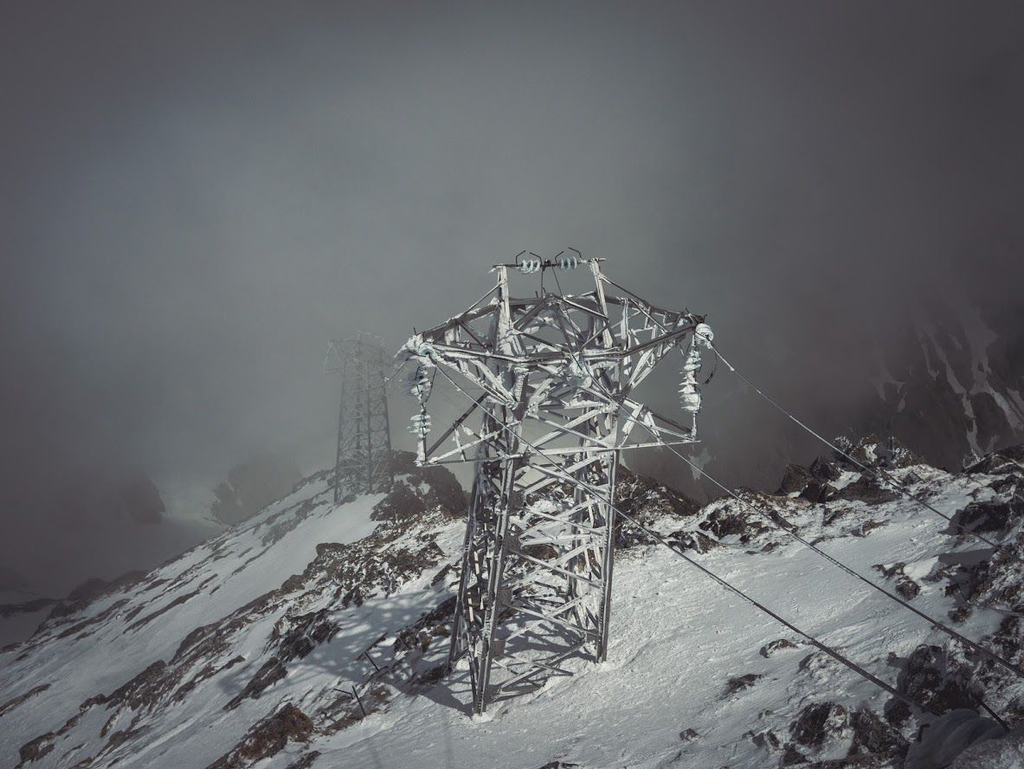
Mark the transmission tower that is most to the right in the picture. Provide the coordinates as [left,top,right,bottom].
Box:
[408,260,708,711]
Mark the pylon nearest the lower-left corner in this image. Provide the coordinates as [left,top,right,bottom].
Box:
[324,332,394,495]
